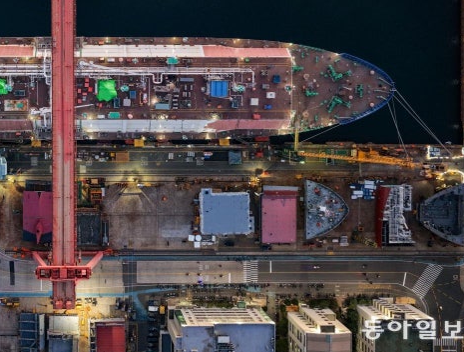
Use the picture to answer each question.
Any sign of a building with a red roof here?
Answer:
Yes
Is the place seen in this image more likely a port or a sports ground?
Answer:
port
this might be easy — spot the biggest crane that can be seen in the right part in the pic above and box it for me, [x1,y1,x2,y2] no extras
[285,145,419,169]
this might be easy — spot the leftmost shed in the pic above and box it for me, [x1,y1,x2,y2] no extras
[19,308,45,352]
